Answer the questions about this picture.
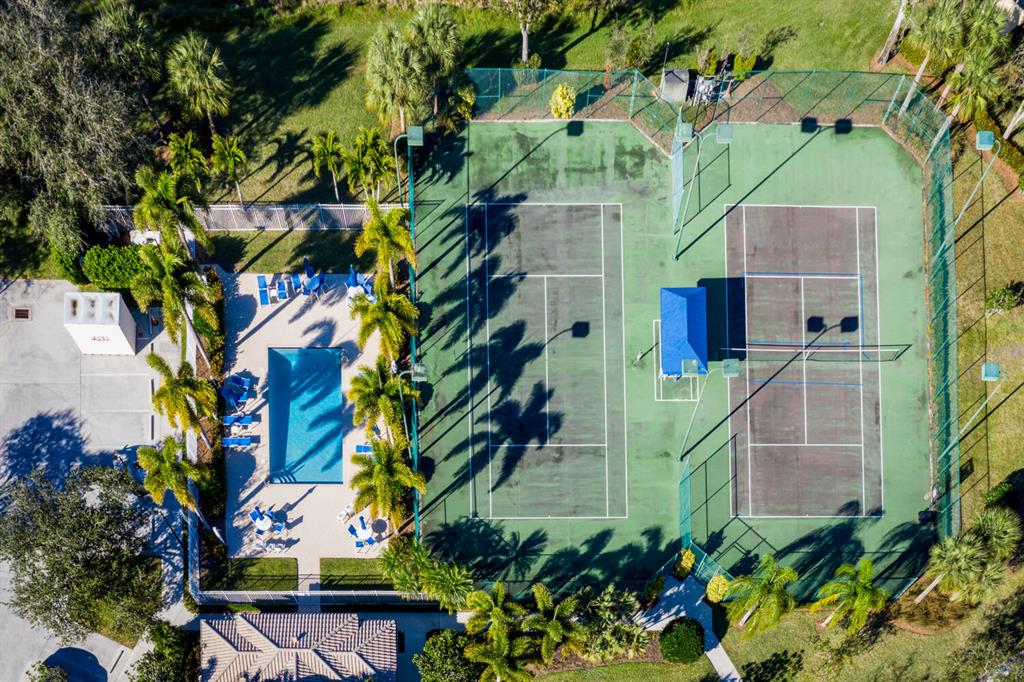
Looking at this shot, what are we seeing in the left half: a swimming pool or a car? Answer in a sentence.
Visible in the left half is a swimming pool.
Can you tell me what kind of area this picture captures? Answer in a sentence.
This looks like a sports ground.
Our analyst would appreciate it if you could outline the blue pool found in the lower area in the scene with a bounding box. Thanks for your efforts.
[261,341,353,487]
